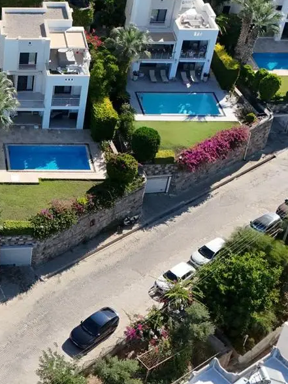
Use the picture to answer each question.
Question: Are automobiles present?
Yes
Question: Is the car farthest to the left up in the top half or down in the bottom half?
bottom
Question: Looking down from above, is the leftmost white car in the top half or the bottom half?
bottom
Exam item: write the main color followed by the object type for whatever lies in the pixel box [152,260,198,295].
white car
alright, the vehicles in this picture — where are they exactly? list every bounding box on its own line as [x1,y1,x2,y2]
[152,260,198,295]
[186,240,225,271]
[123,215,137,229]
[244,211,287,239]
[273,200,288,223]
[66,310,116,351]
